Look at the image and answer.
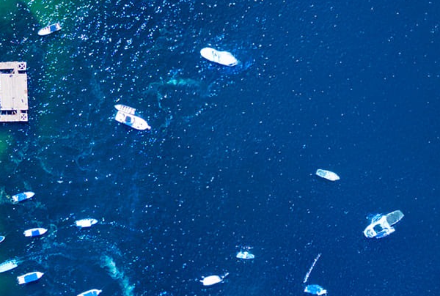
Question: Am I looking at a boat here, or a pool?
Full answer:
It is a boat that can be seen here.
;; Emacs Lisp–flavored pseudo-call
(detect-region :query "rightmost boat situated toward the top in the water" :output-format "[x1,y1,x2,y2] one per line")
[200,48,241,69]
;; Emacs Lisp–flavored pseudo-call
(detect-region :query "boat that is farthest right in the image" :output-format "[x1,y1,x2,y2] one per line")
[364,210,408,240]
